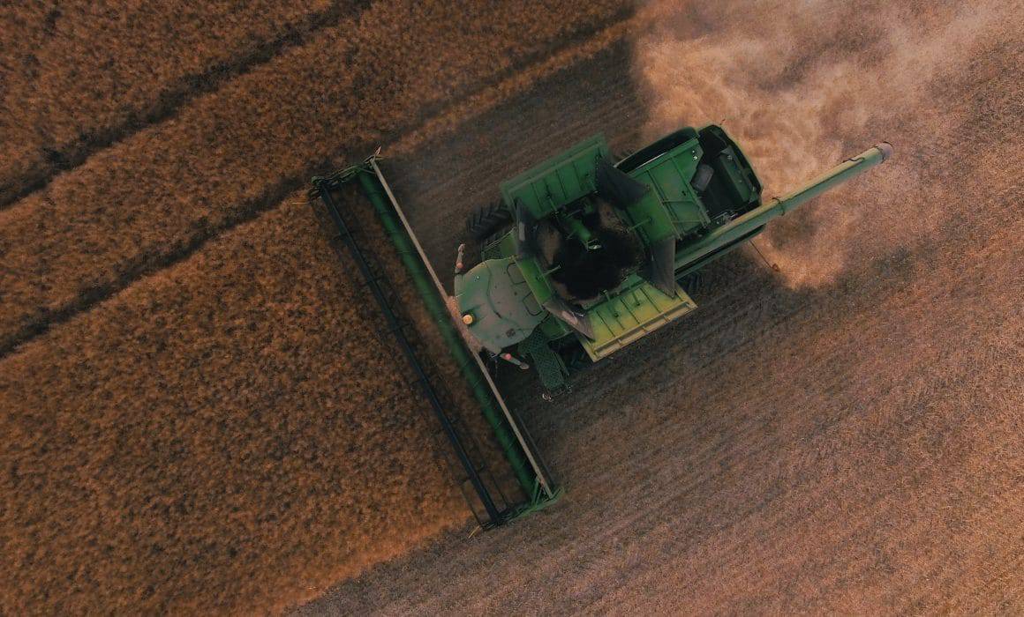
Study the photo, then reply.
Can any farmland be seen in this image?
Yes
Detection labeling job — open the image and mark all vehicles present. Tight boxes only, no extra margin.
[295,122,893,536]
